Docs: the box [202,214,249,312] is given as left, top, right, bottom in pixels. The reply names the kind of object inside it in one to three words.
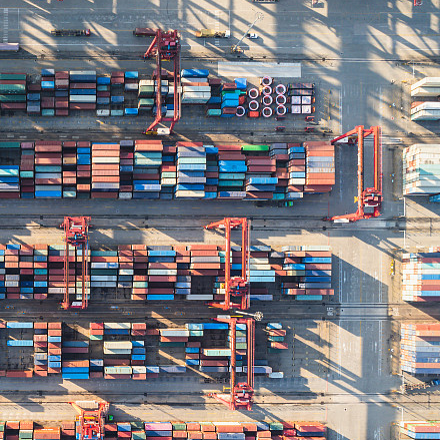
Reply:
crane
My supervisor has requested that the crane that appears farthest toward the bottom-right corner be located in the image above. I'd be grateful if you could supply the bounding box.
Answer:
[207,317,256,411]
